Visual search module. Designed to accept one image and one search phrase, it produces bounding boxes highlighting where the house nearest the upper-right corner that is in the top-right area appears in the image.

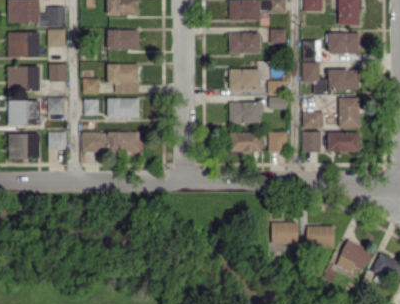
[338,0,362,26]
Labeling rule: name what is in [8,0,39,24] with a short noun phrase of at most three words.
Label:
house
